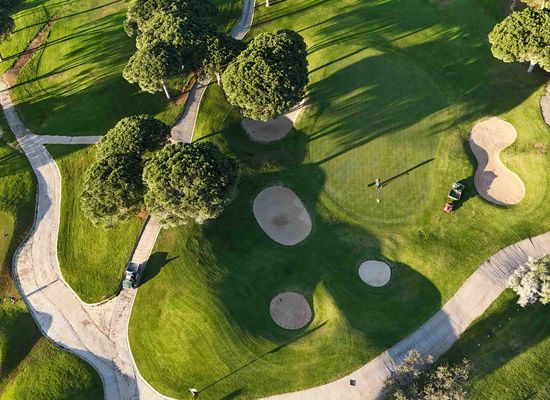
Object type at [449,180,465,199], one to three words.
vehicle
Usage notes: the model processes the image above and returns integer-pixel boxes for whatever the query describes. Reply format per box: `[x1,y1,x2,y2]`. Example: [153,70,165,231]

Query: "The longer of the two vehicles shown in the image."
[122,261,141,289]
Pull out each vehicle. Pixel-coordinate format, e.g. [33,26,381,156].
[122,261,141,289]
[449,180,465,199]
